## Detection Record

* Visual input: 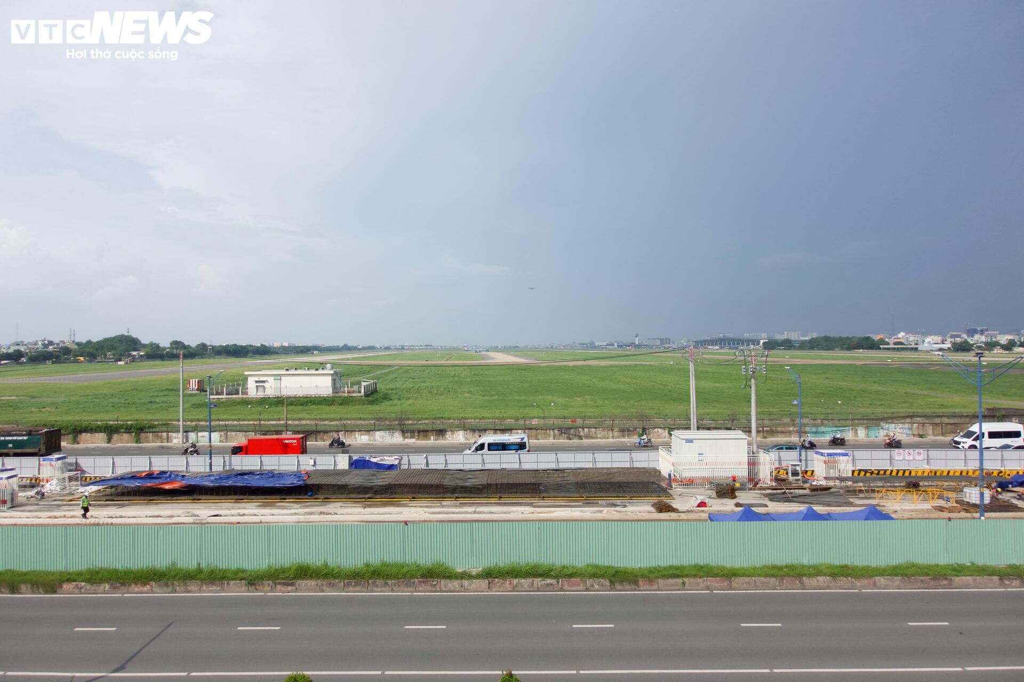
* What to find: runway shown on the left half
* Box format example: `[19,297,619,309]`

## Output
[0,358,318,383]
